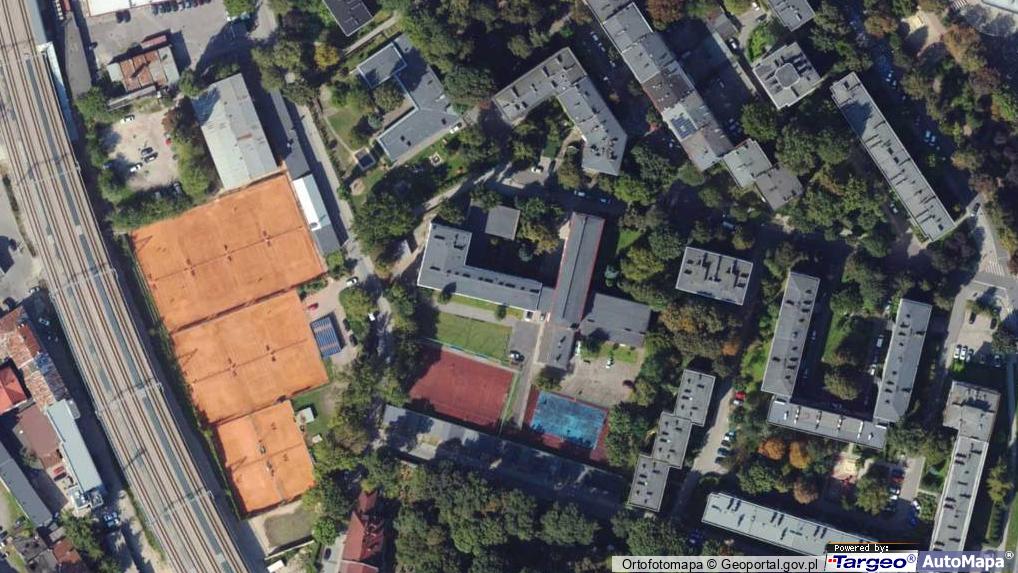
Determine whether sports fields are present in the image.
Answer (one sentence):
Yes, a sports field appears in the view.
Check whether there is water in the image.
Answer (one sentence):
No, there is no water in the image.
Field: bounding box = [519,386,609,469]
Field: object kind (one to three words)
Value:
sports court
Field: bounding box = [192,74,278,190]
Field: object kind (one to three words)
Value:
building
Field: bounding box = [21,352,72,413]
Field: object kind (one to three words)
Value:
house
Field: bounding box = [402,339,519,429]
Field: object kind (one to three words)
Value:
sports court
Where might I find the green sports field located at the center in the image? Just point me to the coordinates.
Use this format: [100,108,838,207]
[432,309,512,364]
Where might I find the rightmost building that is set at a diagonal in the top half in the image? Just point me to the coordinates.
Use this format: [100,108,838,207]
[829,72,955,243]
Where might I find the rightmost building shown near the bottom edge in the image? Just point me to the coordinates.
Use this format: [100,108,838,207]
[923,437,988,573]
